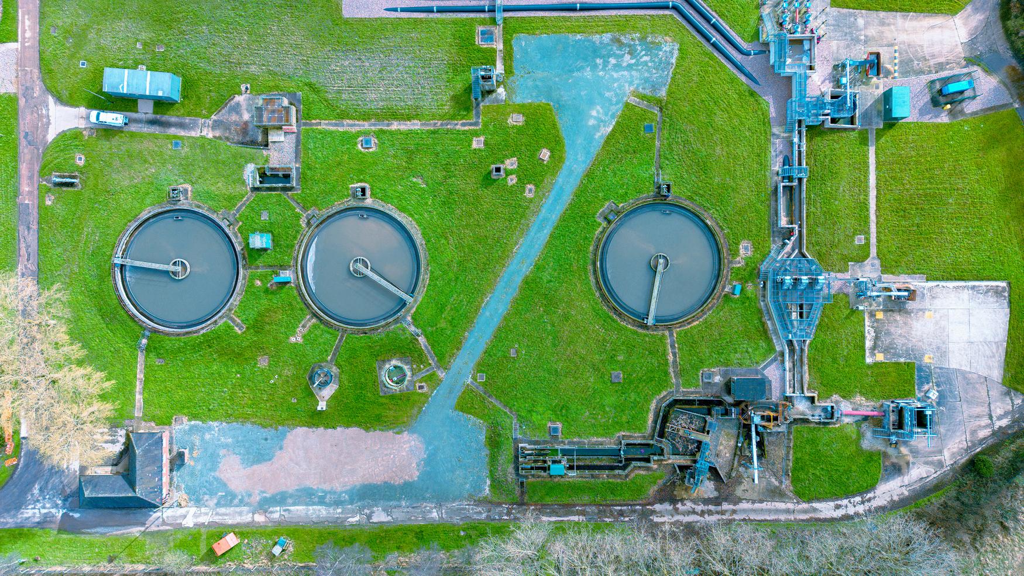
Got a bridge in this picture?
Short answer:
Yes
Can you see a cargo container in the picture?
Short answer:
Yes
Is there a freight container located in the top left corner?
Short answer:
No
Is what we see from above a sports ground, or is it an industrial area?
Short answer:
industrial area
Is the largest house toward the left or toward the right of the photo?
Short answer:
left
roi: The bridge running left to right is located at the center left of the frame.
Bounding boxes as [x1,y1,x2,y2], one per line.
[106,253,180,272]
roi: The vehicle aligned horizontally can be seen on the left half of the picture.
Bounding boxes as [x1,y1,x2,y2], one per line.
[85,106,127,127]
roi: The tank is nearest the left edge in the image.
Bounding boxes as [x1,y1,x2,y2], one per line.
[106,206,242,334]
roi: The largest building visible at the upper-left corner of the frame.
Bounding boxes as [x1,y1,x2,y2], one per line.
[102,68,182,102]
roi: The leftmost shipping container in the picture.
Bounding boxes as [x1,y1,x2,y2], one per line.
[212,529,244,556]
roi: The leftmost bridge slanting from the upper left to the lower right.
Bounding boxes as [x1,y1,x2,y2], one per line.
[353,261,416,307]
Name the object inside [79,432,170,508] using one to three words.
house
